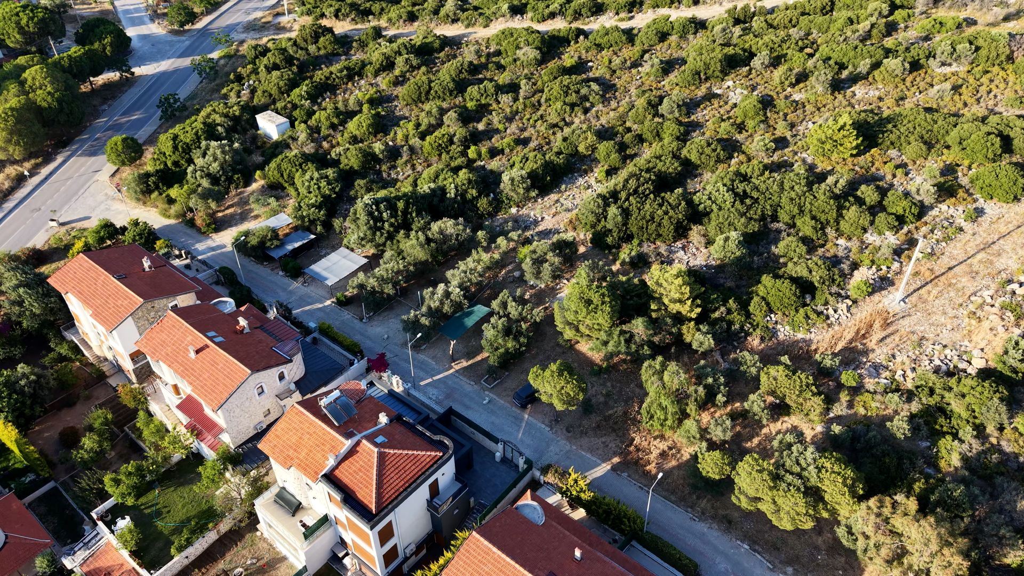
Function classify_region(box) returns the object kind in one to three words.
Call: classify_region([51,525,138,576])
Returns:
shed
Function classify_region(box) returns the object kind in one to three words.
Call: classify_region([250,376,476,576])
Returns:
house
